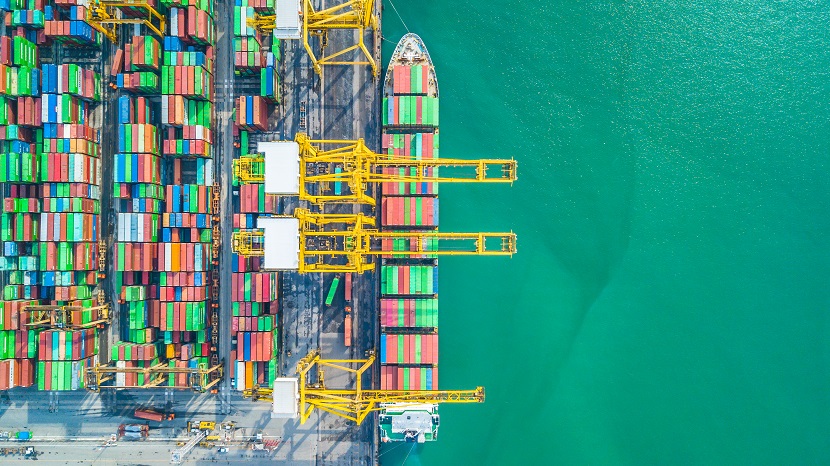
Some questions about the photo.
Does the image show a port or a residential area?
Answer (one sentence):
The picture captures a port.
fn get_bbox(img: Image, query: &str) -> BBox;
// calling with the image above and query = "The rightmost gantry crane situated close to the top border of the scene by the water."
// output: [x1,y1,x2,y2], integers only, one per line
[239,0,386,86]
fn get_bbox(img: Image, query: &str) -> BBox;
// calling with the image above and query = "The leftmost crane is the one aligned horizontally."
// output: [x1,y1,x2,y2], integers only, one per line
[19,297,110,328]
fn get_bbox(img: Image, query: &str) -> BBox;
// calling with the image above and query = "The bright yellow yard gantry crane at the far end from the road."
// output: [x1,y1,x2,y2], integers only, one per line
[89,1,172,41]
